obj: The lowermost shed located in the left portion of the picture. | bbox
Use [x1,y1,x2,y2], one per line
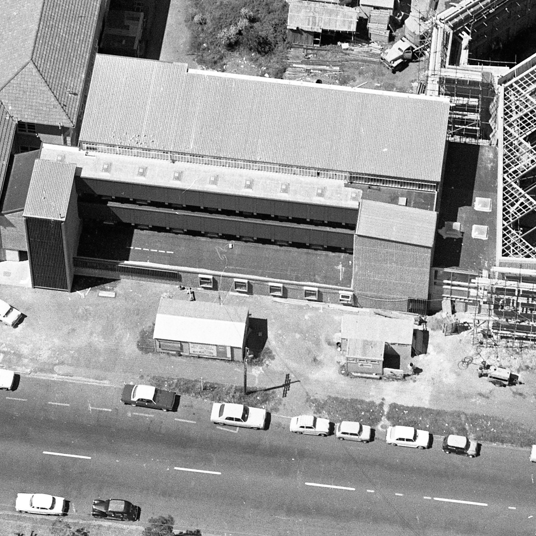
[154,295,251,363]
